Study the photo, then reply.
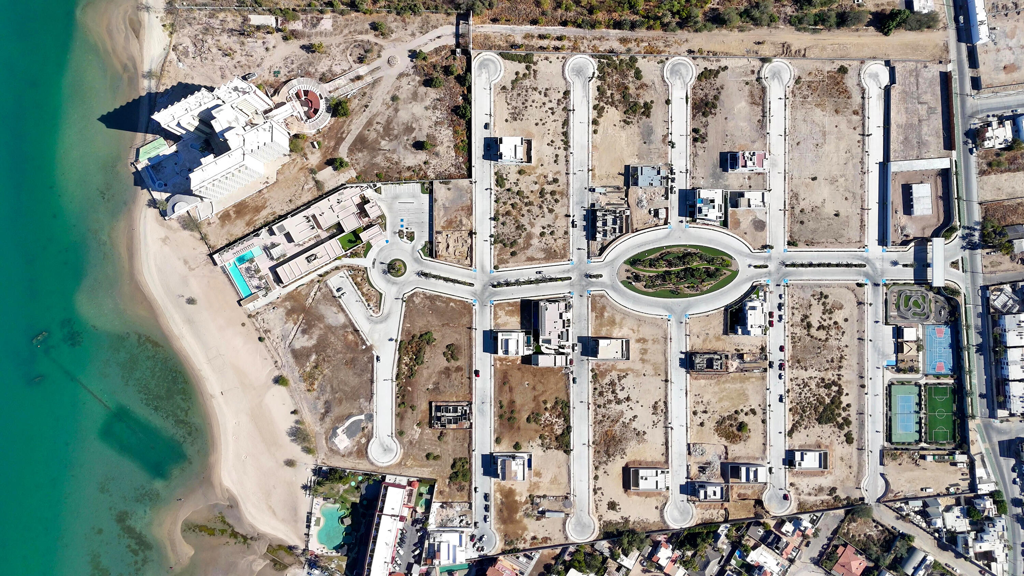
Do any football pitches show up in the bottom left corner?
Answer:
No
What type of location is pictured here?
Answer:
residential area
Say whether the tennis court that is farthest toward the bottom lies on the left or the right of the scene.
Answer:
right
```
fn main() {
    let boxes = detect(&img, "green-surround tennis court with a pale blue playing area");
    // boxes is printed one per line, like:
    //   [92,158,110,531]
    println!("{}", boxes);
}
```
[892,385,919,442]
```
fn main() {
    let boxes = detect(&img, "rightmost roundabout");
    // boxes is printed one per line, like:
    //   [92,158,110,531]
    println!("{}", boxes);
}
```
[619,245,739,298]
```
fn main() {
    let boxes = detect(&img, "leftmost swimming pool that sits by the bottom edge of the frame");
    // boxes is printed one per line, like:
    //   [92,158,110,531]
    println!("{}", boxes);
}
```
[316,502,347,552]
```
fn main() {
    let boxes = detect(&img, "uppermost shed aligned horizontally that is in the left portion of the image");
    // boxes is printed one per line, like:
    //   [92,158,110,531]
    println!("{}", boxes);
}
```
[248,15,280,28]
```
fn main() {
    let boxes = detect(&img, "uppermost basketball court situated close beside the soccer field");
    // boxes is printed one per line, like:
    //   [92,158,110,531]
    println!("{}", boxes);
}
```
[926,325,952,374]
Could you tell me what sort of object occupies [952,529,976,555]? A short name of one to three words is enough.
house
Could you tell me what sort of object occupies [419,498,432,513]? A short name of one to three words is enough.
swimming pool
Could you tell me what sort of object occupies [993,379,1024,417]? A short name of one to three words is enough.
building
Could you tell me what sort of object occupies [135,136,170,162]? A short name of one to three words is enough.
sports court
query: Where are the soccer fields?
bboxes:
[928,385,954,444]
